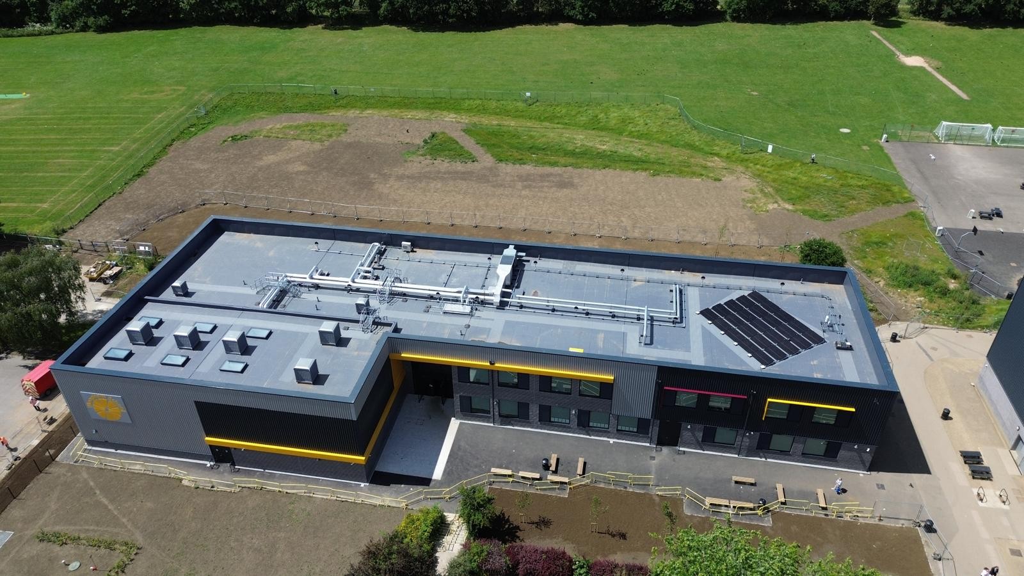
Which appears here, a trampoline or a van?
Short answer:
van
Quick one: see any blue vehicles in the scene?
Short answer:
No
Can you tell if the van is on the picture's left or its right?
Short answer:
left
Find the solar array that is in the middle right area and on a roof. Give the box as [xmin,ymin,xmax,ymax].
[694,292,826,371]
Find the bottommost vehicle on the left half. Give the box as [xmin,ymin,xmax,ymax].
[20,357,58,398]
